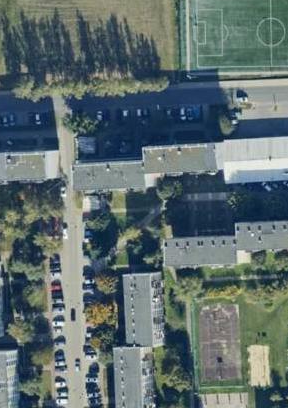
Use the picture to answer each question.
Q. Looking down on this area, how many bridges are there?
zero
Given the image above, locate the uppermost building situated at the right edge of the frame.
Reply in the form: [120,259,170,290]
[223,137,288,183]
